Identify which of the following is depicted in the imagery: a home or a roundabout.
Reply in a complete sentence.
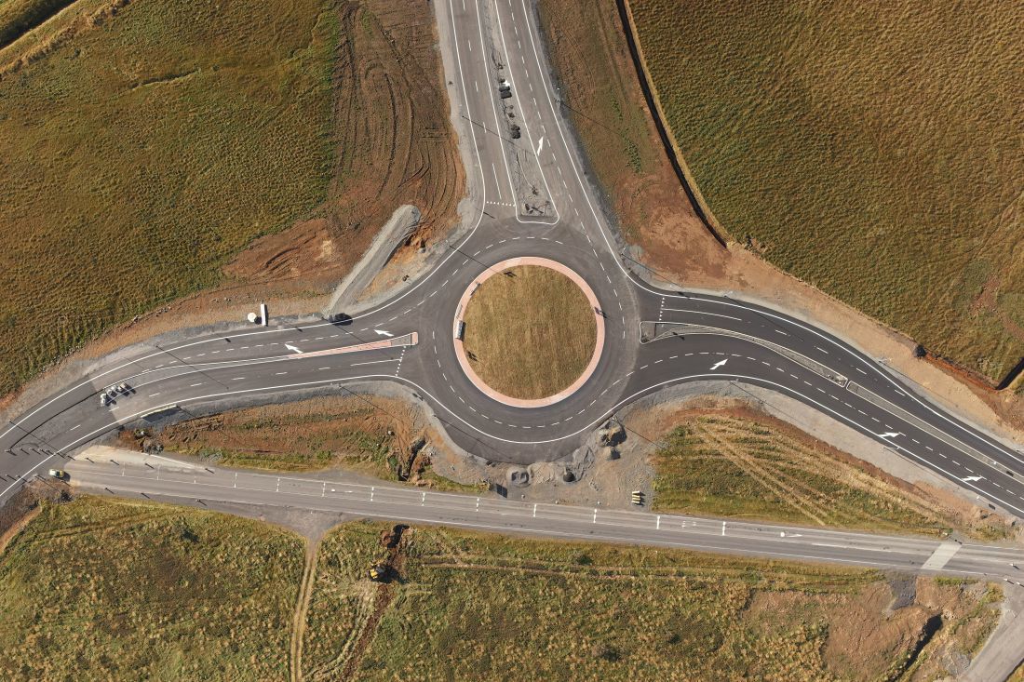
Visible in the photo is a roundabout.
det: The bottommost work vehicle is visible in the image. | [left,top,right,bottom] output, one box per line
[366,563,388,584]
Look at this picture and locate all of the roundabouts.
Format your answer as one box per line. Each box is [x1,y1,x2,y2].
[403,210,640,465]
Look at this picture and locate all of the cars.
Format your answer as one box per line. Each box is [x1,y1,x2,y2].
[328,313,346,322]
[46,469,64,479]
